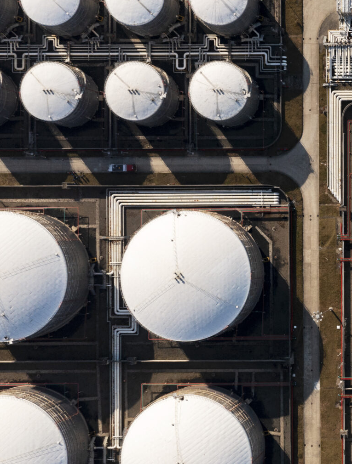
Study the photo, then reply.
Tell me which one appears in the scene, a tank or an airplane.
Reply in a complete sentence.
The image shows a tank.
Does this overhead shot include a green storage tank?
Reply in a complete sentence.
No, I can see no green storage tank in this picture.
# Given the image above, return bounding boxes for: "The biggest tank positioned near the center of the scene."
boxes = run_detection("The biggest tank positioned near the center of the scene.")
[118,207,265,343]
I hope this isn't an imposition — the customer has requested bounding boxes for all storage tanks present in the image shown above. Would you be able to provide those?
[18,0,101,37]
[0,386,91,464]
[188,0,260,37]
[120,387,266,464]
[188,60,261,129]
[18,60,100,129]
[0,208,91,346]
[102,60,181,129]
[118,207,265,343]
[104,0,181,37]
